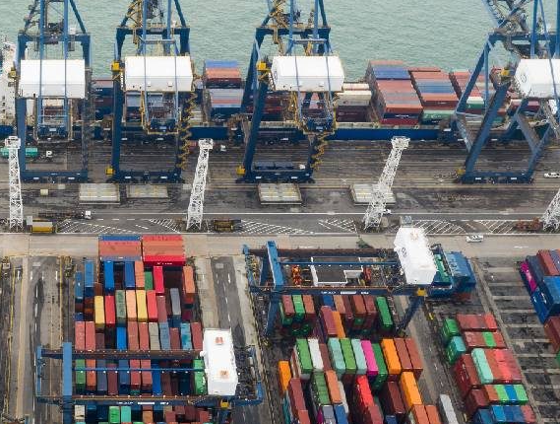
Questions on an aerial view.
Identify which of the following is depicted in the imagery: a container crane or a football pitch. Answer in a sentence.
This aerial view contains a container crane.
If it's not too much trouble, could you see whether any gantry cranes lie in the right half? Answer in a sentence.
Yes, there is a gantry crane in the right half.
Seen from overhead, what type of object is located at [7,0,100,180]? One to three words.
container crane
